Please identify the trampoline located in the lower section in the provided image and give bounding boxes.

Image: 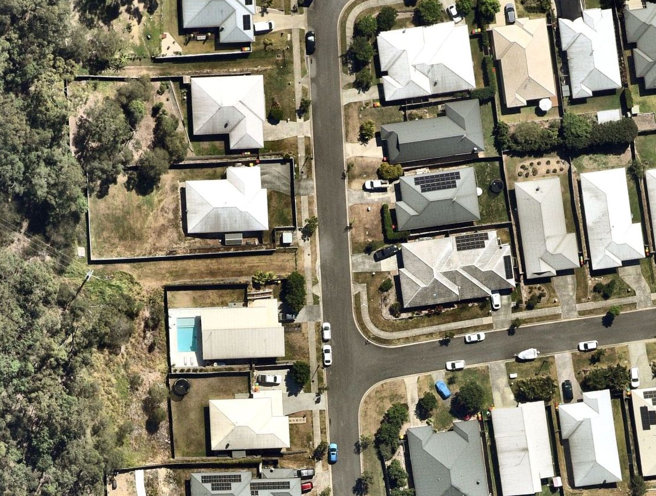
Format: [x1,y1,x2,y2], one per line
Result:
[173,379,189,395]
